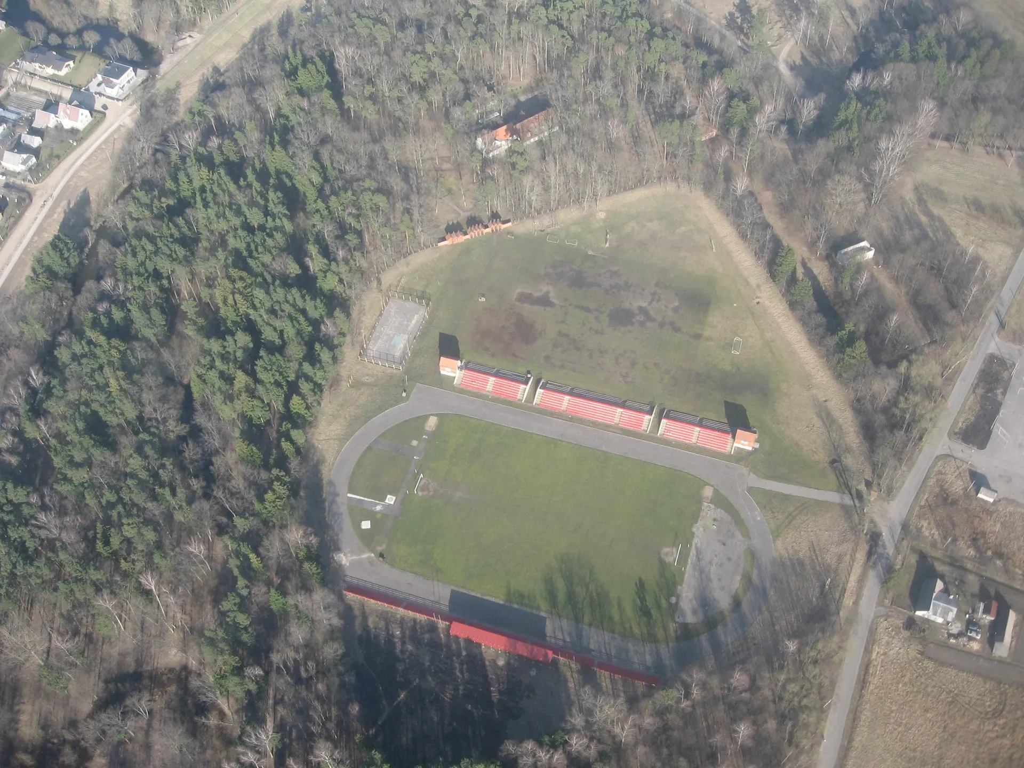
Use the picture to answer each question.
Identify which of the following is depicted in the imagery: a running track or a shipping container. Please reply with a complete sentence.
It is a running track that can be seen here.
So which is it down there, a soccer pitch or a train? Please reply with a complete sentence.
There is a soccer pitch in the scene.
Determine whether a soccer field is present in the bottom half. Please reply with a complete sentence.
Yes, there is a soccer field in the bottom half.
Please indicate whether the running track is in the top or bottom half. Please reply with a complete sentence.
It is in the bottom half that the running track appears.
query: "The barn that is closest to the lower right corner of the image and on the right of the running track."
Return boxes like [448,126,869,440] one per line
[994,606,1022,665]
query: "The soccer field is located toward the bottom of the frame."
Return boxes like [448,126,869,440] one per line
[347,414,753,642]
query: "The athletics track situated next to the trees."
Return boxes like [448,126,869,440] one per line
[327,385,773,676]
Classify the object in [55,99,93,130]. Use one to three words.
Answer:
house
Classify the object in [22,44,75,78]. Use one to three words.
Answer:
house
